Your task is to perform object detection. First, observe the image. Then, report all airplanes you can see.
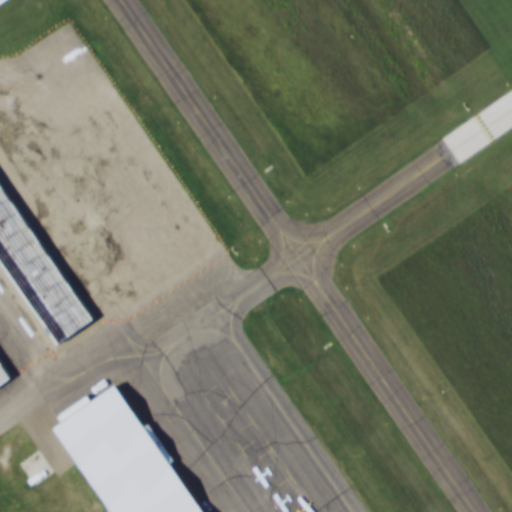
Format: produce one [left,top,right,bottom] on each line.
[298,498,317,512]
[274,494,293,512]
[254,467,273,488]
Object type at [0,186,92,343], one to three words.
hangar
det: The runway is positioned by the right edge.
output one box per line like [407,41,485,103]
[444,90,512,164]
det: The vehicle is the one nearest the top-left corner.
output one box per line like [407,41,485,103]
[62,46,88,64]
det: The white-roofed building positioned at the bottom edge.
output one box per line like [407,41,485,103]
[52,386,202,512]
